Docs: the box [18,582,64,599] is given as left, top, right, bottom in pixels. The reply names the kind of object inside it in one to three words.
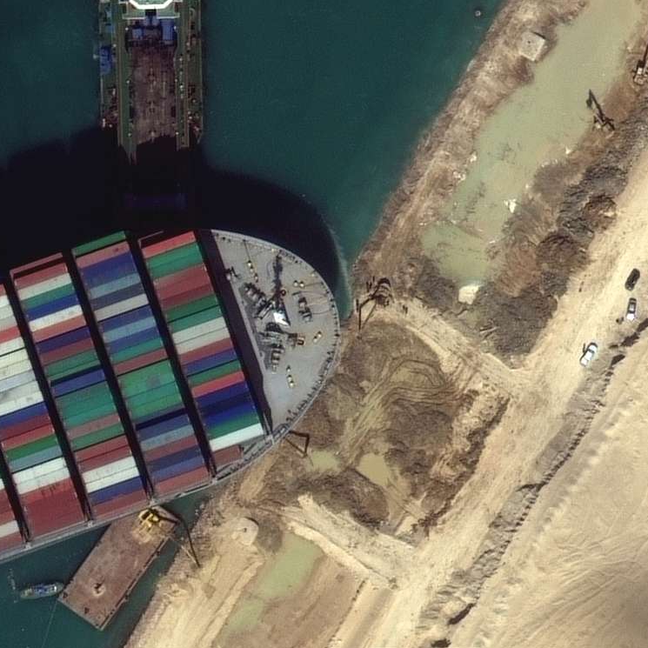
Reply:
boat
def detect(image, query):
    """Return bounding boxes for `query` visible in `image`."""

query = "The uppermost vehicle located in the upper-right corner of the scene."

[629,43,648,90]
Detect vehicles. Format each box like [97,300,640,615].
[625,268,640,290]
[591,90,615,138]
[629,43,648,90]
[140,505,202,571]
[278,431,310,459]
[357,273,398,332]
[581,342,597,365]
[626,297,637,320]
